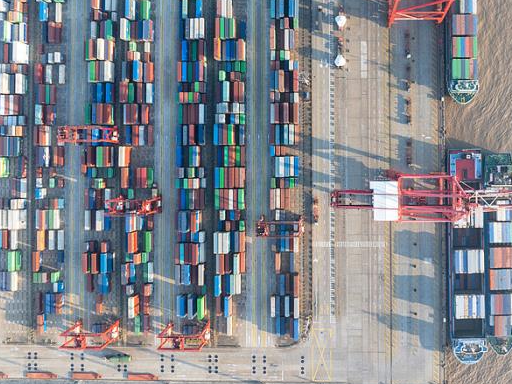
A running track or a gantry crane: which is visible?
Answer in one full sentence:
It is a gantry crane that can be seen here.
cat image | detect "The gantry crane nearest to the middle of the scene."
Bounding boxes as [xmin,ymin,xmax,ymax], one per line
[254,211,305,237]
